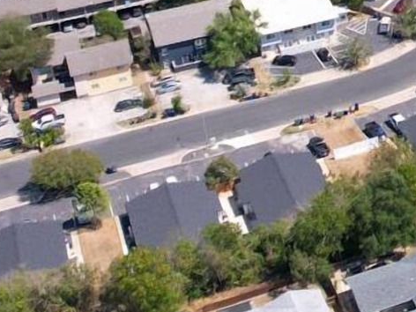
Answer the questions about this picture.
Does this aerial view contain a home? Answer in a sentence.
Yes, you can see a home in this photo.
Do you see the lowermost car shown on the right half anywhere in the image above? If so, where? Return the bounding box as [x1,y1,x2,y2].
[309,137,327,155]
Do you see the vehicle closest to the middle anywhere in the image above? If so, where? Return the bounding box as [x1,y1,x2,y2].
[157,107,183,119]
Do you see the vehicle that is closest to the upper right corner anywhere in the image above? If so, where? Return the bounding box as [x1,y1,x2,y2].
[394,0,408,12]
